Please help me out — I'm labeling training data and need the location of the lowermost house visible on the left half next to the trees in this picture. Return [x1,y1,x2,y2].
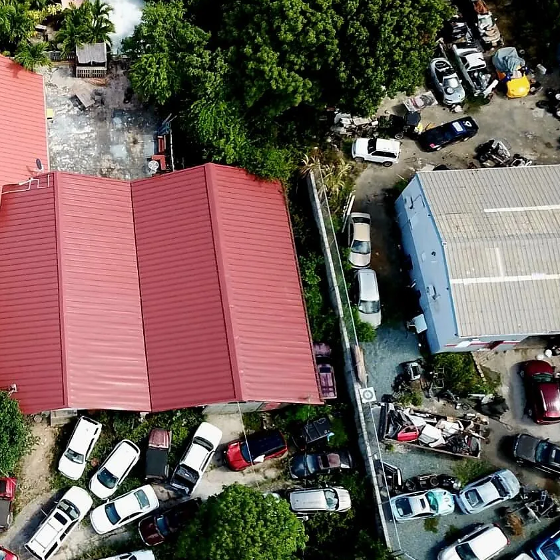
[0,162,324,413]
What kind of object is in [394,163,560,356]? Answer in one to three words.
warehouse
